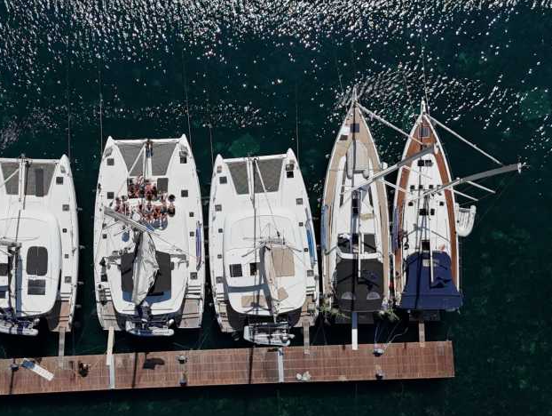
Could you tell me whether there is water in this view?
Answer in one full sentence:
Yes, water shows up in the scene.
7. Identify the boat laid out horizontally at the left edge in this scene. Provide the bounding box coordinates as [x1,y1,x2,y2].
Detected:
[0,316,46,341]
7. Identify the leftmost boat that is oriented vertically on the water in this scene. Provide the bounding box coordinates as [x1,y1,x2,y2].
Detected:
[0,150,79,330]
